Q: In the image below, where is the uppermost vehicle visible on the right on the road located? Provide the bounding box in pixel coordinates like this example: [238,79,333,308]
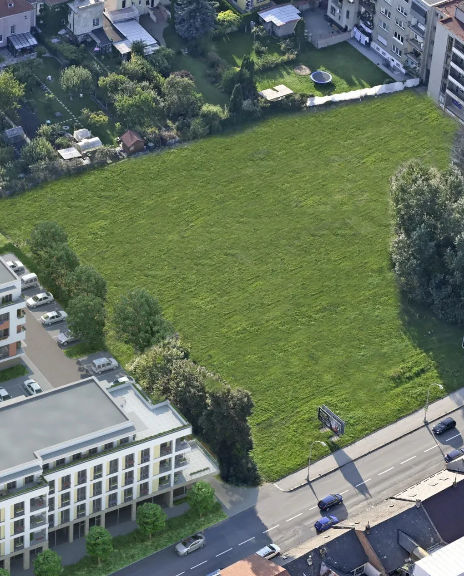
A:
[429,416,459,437]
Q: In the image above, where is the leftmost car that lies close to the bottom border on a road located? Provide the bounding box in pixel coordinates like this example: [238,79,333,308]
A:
[173,535,206,556]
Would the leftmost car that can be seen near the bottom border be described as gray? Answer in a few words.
Yes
